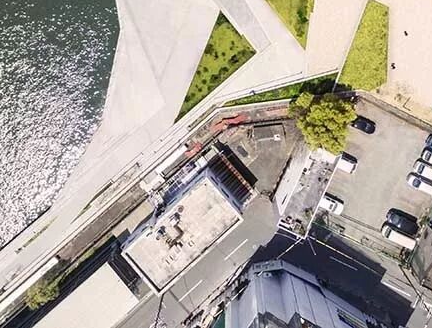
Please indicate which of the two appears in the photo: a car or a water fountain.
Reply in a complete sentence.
The image shows a car.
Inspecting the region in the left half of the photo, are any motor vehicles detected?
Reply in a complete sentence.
No, there's no motor vehicle to be seen in the left half of the photo.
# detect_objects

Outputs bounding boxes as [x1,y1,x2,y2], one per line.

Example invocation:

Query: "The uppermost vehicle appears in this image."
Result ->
[350,116,377,135]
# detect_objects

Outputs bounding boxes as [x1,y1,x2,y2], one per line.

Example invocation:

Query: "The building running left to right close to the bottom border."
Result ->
[222,266,372,328]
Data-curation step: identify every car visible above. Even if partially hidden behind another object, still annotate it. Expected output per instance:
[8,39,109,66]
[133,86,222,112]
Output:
[406,174,432,195]
[386,210,417,233]
[420,149,432,163]
[382,225,412,247]
[338,155,357,173]
[350,116,377,135]
[319,196,342,215]
[412,161,432,179]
